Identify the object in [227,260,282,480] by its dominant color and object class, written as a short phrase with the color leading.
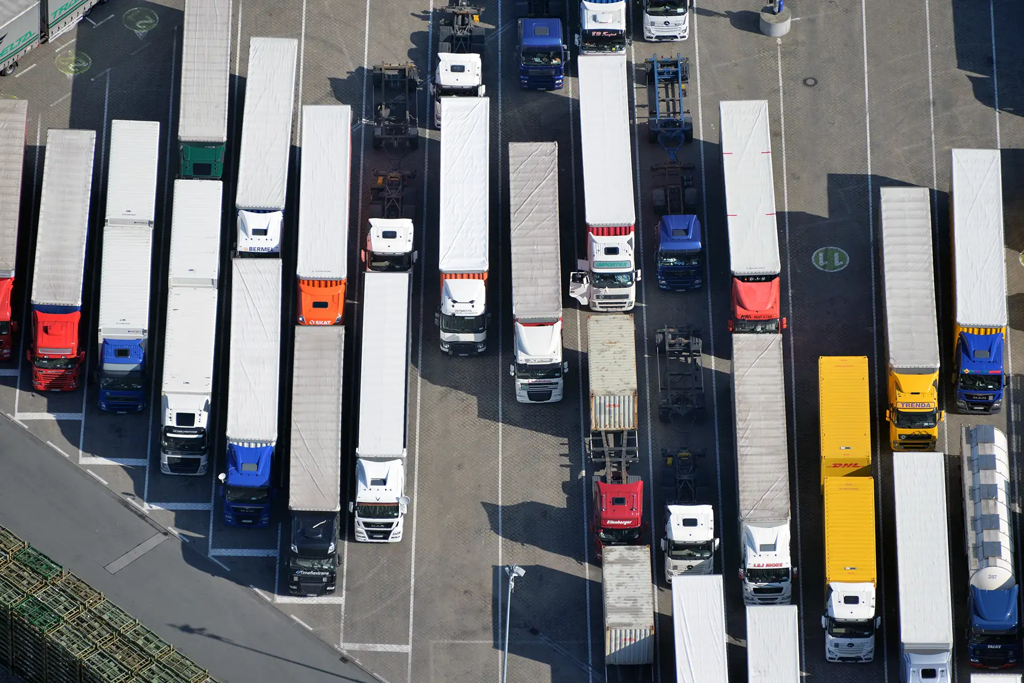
white trailer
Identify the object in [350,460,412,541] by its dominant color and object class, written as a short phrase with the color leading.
white truck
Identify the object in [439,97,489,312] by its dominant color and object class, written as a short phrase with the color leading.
white trailer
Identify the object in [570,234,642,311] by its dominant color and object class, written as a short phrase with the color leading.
white truck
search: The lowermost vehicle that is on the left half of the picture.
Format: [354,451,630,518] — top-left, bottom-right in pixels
[282,516,343,595]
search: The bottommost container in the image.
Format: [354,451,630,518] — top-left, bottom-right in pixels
[601,546,655,666]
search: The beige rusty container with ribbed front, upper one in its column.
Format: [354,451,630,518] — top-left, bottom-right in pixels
[586,315,638,433]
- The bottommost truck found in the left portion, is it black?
Yes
